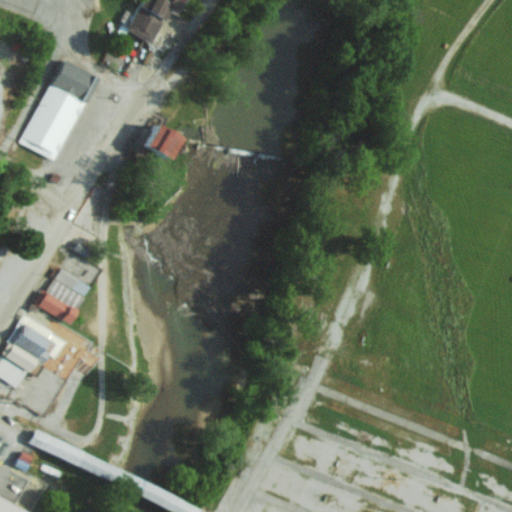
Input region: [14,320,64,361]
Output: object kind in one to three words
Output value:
building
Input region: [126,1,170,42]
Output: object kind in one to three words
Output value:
house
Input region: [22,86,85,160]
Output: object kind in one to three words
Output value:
building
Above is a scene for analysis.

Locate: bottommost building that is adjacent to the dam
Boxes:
[144,124,186,163]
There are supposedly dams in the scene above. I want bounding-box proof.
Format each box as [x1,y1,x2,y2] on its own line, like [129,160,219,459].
[202,147,294,163]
